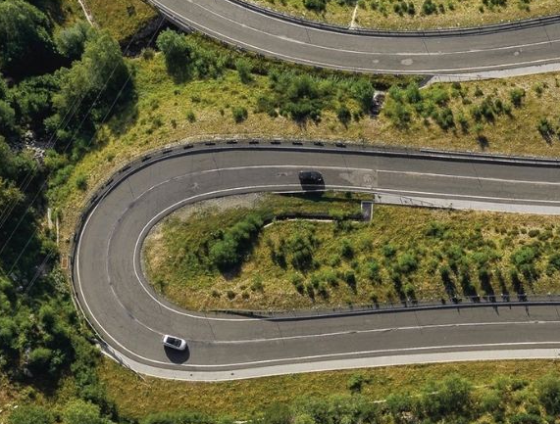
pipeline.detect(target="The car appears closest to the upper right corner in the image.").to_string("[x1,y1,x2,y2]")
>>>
[298,170,322,183]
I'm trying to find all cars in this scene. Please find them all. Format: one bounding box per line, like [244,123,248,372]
[161,333,187,350]
[298,170,322,183]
